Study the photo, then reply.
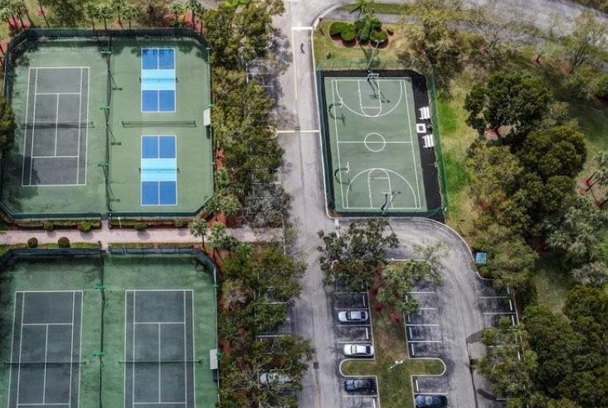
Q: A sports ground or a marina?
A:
sports ground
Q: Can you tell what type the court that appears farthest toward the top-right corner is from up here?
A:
basketball court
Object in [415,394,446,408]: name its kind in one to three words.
car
